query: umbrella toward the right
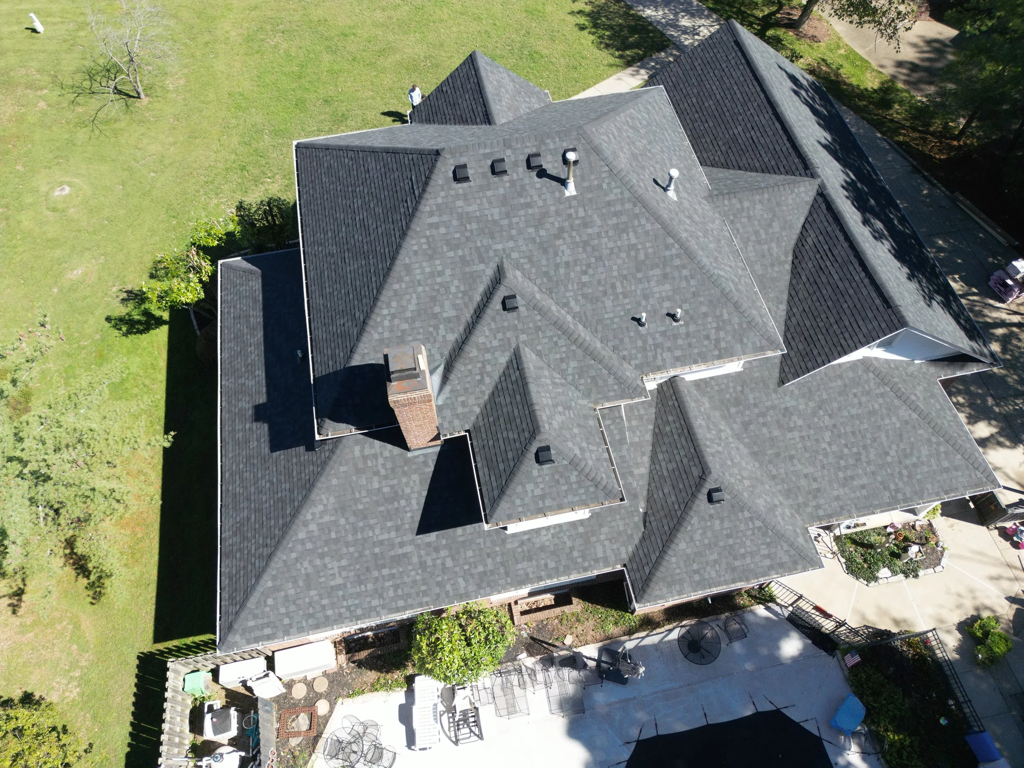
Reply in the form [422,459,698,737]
[598,638,645,692]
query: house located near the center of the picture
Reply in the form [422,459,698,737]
[217,17,1003,656]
